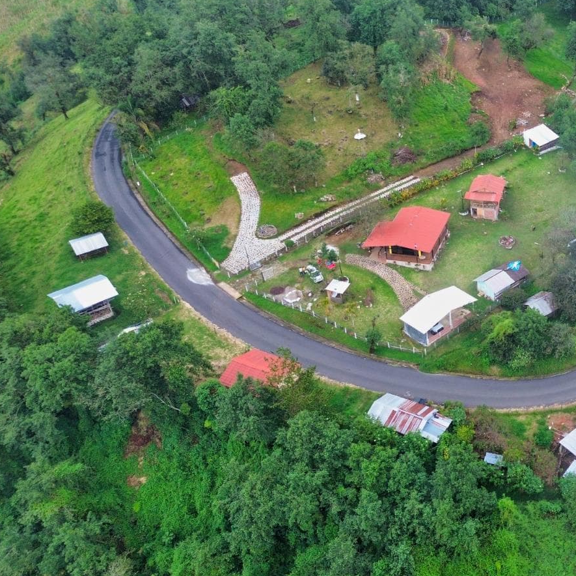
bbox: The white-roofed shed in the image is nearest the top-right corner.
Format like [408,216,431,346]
[523,124,559,154]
